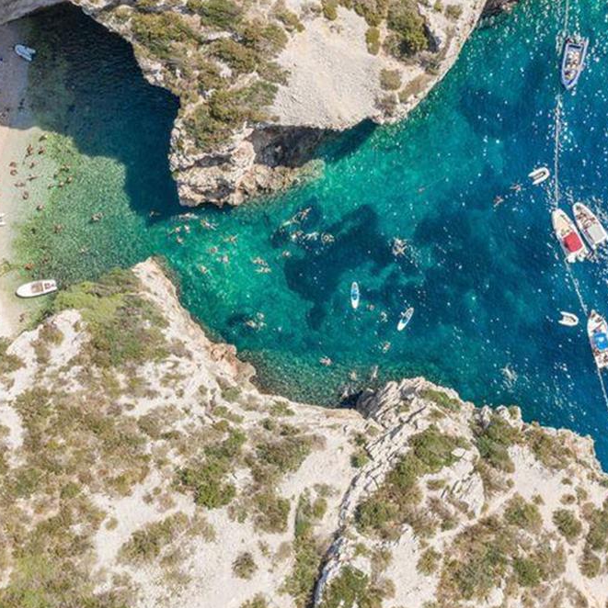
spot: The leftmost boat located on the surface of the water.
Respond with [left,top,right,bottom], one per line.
[527,166,550,185]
